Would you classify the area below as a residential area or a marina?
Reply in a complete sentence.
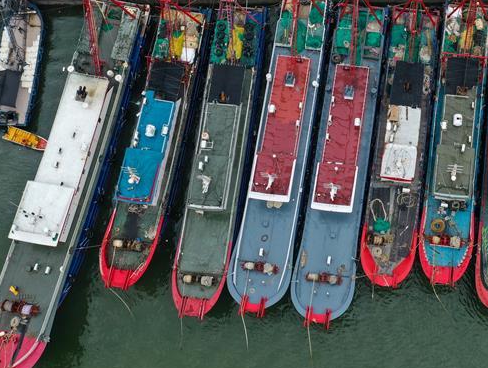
This looks like a marina.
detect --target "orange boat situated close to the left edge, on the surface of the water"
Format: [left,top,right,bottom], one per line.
[1,128,44,149]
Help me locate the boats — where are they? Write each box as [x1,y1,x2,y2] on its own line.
[293,0,387,328]
[1,128,44,149]
[0,0,47,126]
[420,0,488,291]
[102,0,208,294]
[363,0,439,293]
[0,0,155,368]
[173,0,266,324]
[229,0,330,320]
